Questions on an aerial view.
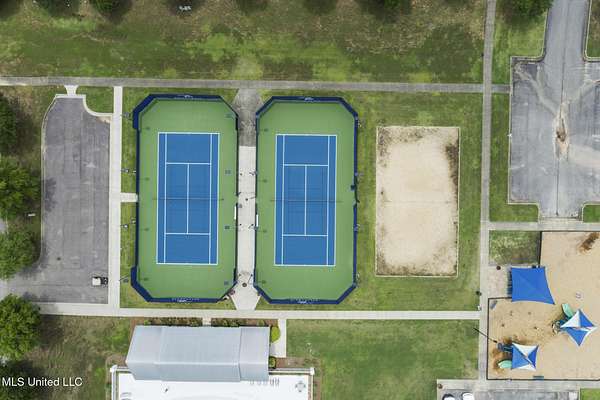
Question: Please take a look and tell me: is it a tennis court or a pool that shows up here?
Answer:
tennis court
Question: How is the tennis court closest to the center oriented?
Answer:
from top to bottom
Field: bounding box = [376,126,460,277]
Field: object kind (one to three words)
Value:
sports court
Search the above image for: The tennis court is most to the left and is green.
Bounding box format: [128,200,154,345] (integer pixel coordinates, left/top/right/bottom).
[137,99,239,299]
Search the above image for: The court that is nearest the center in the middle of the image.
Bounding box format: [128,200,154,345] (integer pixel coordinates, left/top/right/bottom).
[256,101,355,300]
